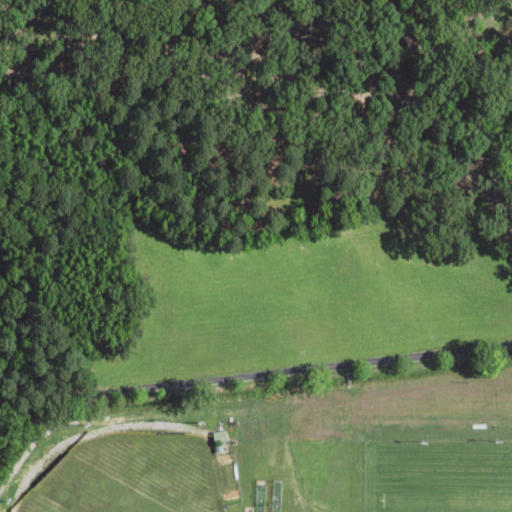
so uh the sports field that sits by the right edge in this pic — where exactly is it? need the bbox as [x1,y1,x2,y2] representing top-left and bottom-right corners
[366,442,512,512]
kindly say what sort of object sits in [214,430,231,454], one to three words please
building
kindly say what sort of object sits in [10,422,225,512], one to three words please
baseball field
